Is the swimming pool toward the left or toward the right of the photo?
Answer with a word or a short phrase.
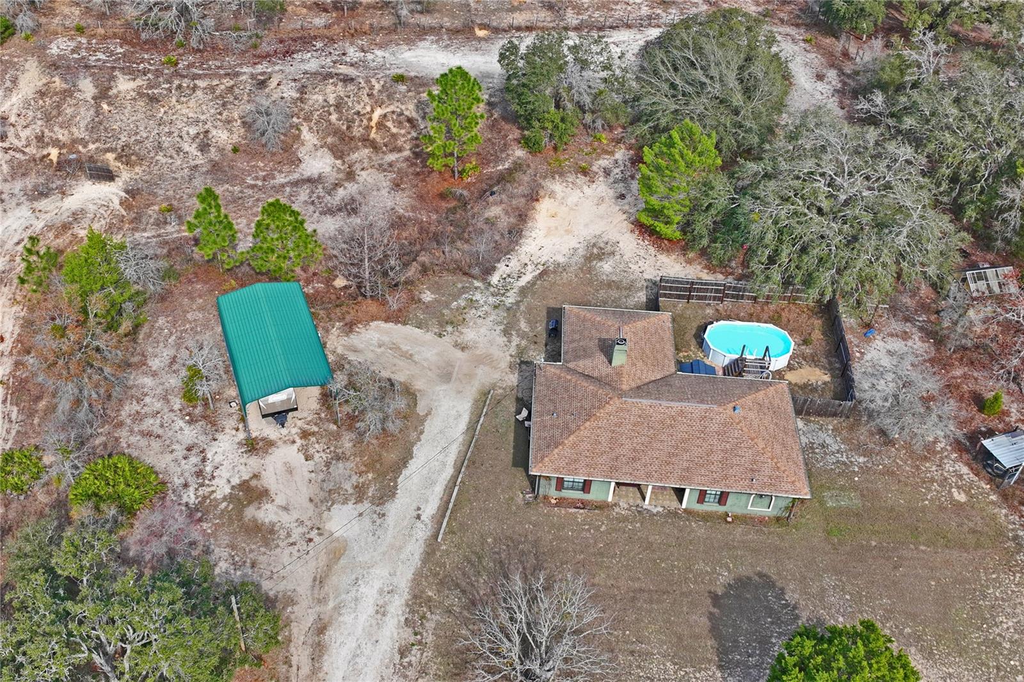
right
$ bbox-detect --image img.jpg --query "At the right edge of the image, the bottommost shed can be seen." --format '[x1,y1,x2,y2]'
[962,419,1024,492]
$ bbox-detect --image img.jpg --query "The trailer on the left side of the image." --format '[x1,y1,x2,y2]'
[263,390,308,433]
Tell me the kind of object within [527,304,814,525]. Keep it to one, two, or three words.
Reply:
house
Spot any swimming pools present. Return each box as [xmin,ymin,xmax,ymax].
[699,318,796,374]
